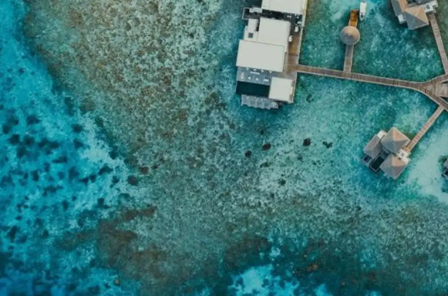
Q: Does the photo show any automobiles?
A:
No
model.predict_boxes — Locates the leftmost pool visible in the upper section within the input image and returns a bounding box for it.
[235,81,270,98]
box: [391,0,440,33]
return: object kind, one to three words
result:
house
